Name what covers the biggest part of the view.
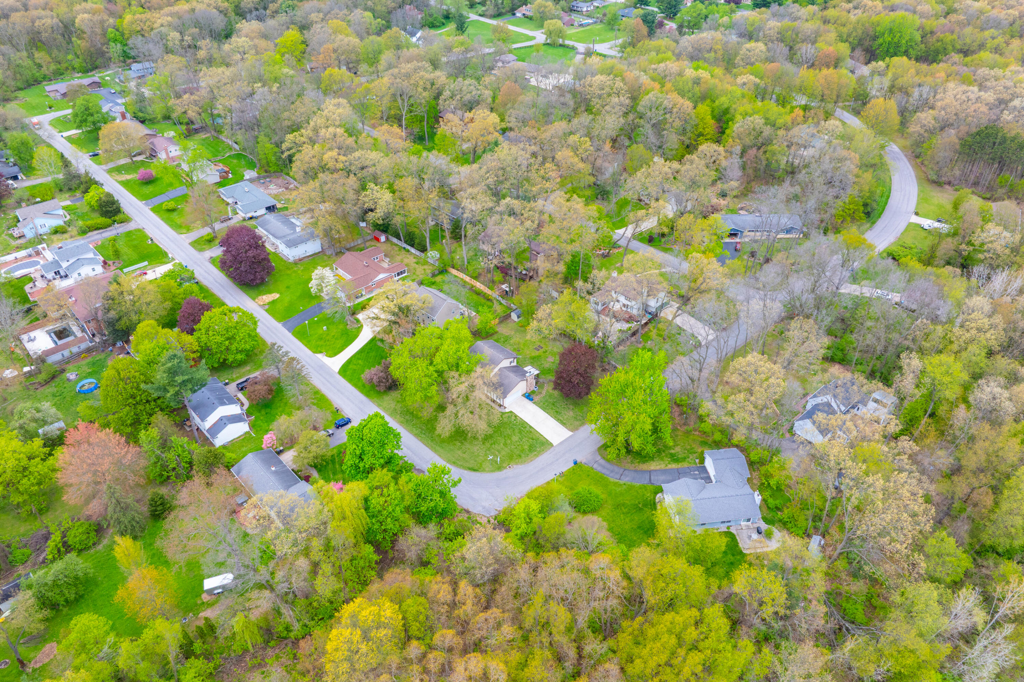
trees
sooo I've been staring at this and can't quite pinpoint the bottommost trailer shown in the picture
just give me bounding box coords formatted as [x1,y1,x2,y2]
[200,575,246,600]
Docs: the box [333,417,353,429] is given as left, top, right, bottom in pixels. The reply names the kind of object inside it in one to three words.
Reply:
vehicle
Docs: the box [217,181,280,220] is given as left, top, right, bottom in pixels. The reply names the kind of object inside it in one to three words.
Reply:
house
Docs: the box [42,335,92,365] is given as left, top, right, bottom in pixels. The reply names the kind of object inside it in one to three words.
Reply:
building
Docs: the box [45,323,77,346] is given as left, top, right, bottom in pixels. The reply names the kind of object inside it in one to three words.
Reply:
swimming pool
